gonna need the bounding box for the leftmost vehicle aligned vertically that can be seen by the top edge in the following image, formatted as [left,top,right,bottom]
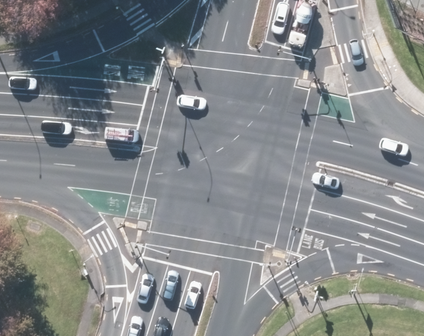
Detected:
[272,2,290,34]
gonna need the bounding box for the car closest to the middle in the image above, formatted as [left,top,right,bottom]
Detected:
[176,94,206,110]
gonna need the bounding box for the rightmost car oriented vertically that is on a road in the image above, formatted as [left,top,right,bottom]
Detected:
[348,38,364,66]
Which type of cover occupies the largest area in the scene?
paved ground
